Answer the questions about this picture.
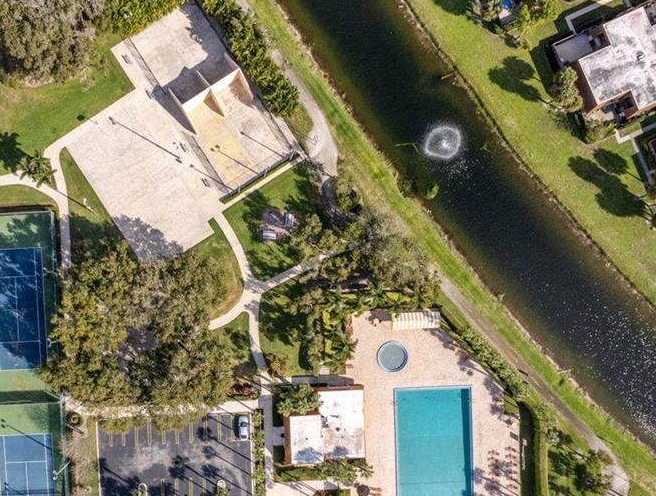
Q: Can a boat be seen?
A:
No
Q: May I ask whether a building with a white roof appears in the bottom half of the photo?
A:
Yes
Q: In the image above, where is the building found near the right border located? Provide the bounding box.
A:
[568,8,656,116]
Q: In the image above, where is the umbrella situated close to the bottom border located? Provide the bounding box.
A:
[356,483,370,496]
